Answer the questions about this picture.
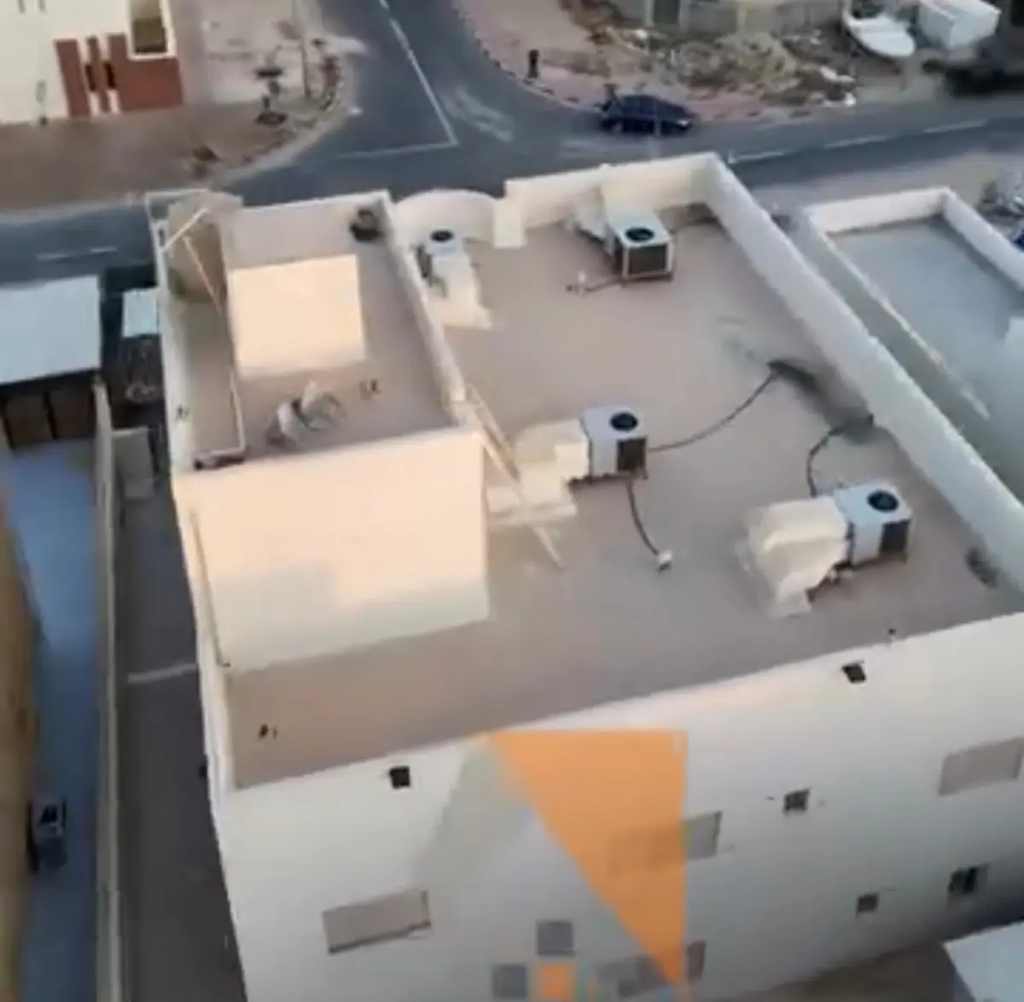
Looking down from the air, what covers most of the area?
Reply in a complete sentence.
Most of the picture is covered by buildings.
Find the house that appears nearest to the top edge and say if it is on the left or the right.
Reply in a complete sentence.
The house that appears nearest to the top edge sits on the left side.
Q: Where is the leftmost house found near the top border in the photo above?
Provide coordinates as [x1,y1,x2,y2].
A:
[0,0,185,124]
